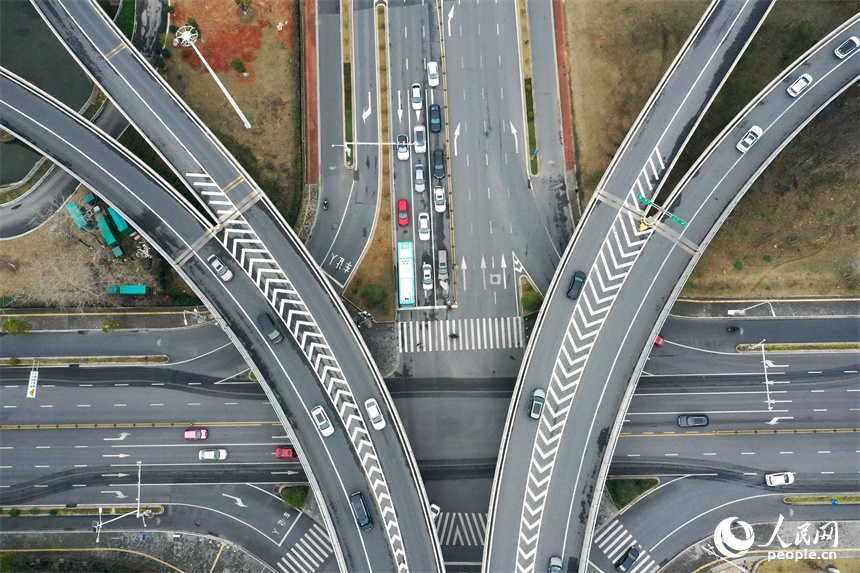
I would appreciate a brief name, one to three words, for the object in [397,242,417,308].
bus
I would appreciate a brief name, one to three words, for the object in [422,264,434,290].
vehicle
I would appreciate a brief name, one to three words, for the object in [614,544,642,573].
car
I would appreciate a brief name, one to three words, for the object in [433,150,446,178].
vehicle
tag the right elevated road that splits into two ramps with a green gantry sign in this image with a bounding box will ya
[479,0,860,573]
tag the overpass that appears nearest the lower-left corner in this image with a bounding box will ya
[0,0,447,573]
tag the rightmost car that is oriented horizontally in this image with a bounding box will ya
[763,471,795,486]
